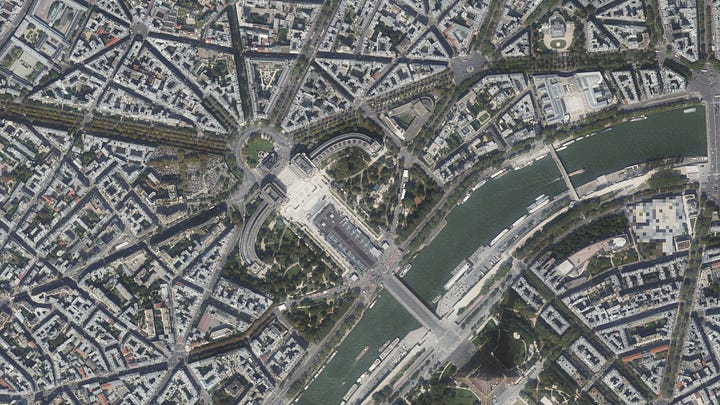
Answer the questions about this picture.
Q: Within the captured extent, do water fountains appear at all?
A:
Yes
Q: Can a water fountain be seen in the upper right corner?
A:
No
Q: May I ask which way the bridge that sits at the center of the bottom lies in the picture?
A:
on a diagonal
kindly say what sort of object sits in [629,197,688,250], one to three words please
building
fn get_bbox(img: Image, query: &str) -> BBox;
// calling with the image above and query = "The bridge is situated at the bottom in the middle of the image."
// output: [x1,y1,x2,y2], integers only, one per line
[380,270,445,334]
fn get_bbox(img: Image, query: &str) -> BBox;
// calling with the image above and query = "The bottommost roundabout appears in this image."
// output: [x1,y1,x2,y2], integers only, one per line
[236,129,280,172]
